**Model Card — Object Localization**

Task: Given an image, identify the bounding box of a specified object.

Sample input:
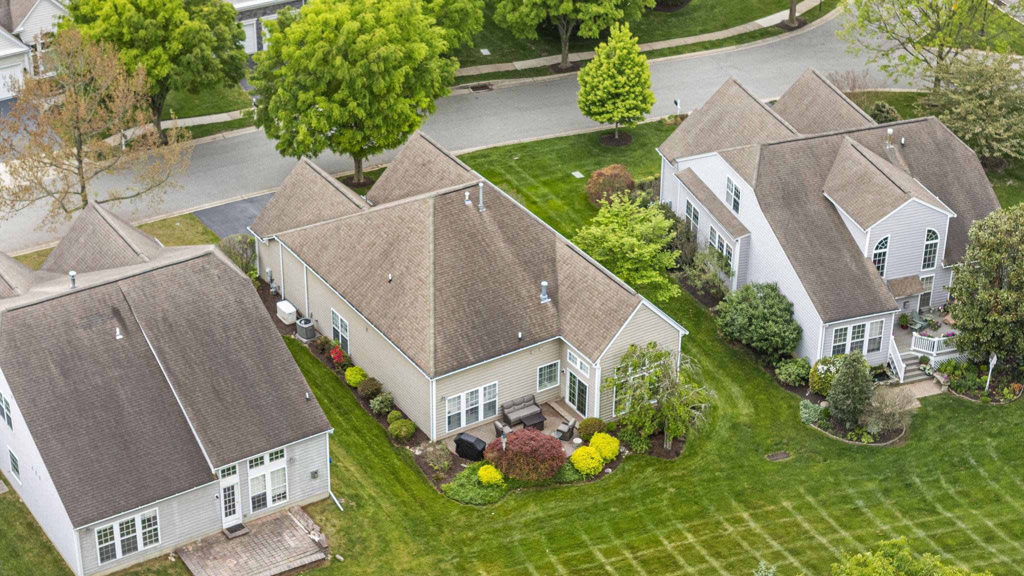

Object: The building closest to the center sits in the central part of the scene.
[247,130,689,438]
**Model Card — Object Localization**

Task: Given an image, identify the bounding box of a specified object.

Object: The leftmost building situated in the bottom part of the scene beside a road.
[0,201,335,576]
